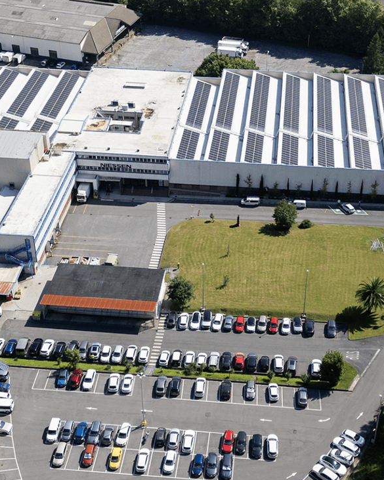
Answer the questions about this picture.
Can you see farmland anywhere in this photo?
No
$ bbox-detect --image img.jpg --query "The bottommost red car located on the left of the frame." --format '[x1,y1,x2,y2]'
[82,445,97,466]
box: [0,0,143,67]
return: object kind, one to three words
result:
building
